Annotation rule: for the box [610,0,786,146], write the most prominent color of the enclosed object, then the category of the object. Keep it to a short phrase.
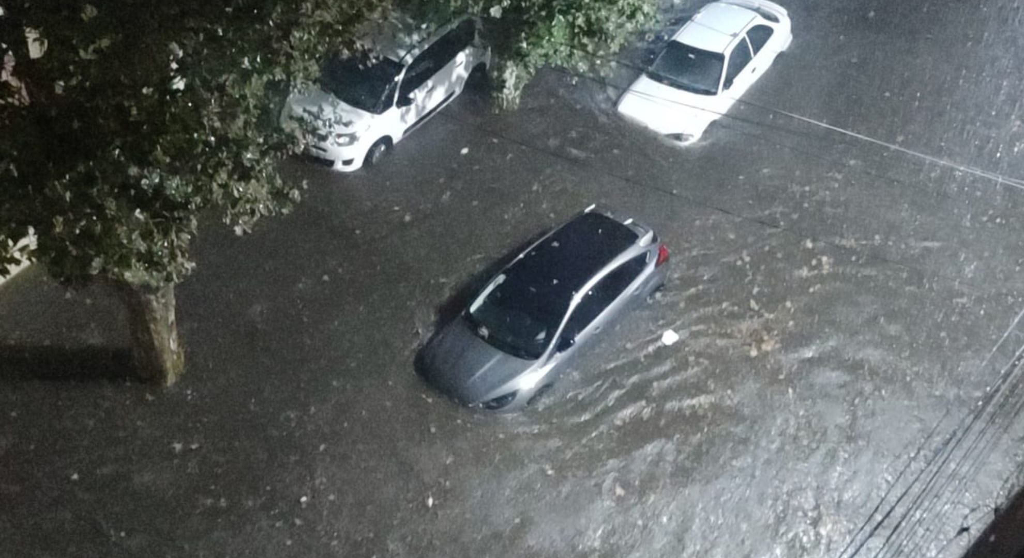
white car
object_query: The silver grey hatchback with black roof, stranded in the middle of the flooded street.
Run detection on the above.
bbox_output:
[418,205,664,413]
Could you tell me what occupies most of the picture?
water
